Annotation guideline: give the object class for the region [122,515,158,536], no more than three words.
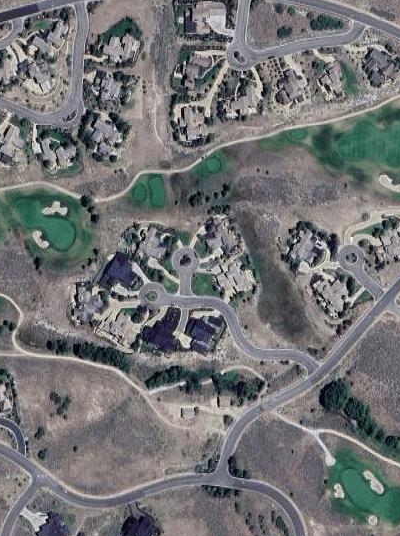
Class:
house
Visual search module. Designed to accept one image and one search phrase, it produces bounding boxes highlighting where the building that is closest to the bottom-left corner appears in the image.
[34,513,70,536]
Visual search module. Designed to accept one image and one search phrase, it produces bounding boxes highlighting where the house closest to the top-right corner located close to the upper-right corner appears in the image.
[365,48,397,87]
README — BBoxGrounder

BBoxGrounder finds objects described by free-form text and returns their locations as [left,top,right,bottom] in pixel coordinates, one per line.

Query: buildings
[122,515,158,536]
[320,62,348,97]
[182,0,225,32]
[104,34,141,66]
[275,69,307,105]
[365,48,397,87]
[76,288,105,322]
[144,309,180,350]
[292,229,320,262]
[0,378,12,411]
[41,140,79,169]
[180,107,210,143]
[98,253,138,290]
[34,513,70,536]
[221,81,260,117]
[31,36,54,58]
[202,219,237,254]
[185,315,223,353]
[213,260,251,301]
[17,58,53,92]
[377,224,400,259]
[180,52,211,91]
[89,119,123,156]
[140,229,167,262]
[0,125,25,165]
[95,70,121,103]
[41,20,68,44]
[0,60,12,80]
[102,312,138,350]
[313,277,349,312]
